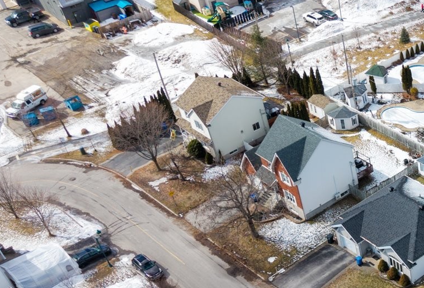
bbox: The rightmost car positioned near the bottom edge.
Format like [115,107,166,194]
[127,253,167,282]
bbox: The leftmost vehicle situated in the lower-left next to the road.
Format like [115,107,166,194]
[78,240,117,266]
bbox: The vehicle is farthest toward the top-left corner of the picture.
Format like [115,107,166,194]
[6,9,43,26]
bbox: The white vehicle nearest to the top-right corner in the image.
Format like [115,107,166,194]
[303,13,326,27]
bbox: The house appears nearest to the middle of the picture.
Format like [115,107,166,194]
[166,77,273,165]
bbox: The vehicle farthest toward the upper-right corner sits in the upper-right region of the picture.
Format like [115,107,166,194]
[317,9,340,22]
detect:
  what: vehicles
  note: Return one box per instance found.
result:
[127,253,167,282]
[6,9,43,26]
[27,22,61,38]
[78,240,117,266]
[303,13,326,27]
[317,9,340,22]
[4,80,46,115]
